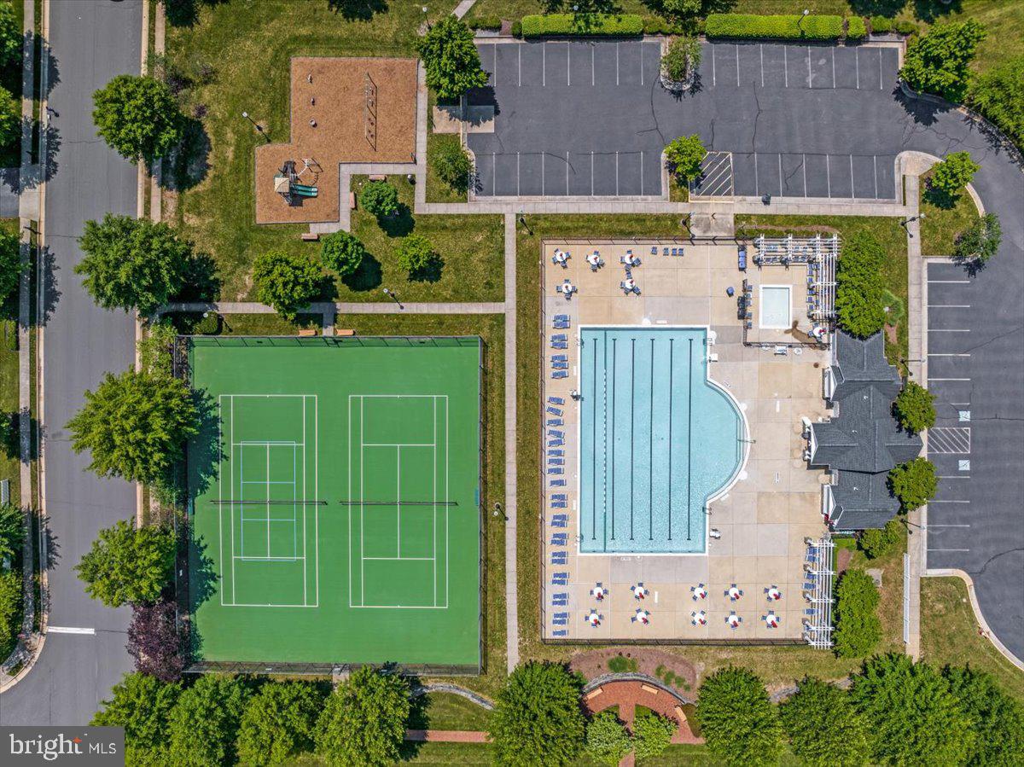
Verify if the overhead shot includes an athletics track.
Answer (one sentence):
No, the frame has no athletics track in it.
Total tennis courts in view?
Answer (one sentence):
I count 2 tennis courts.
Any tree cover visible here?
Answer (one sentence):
Yes, there is tree cover in the image.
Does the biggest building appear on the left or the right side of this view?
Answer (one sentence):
You can find the biggest building on the right side of the picture.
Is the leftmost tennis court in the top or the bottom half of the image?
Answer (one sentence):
The leftmost tennis court sits in the bottom half of the picture.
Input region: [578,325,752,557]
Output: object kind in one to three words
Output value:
swimming pool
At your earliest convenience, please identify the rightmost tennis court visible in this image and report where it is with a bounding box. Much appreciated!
[333,338,481,664]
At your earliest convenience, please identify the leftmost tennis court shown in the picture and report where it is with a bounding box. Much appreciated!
[189,338,333,664]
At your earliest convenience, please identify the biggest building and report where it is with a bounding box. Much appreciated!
[803,328,928,530]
